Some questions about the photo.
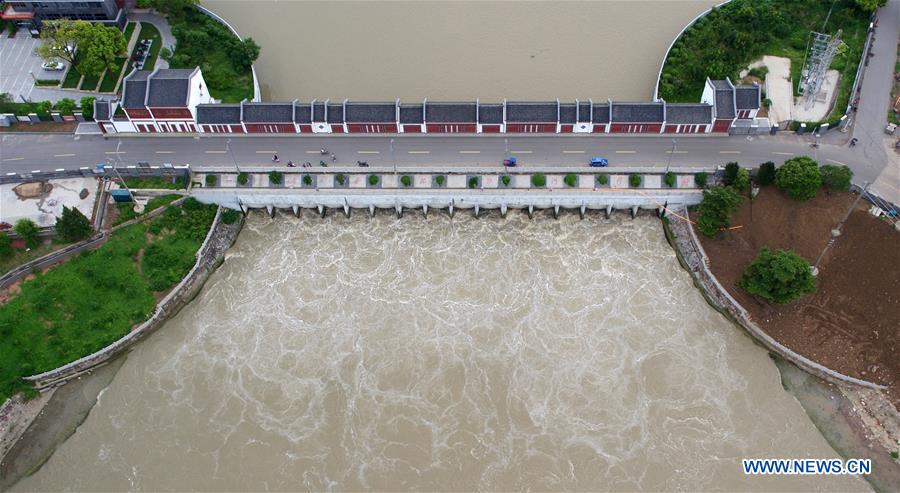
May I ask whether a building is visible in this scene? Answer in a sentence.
Yes, I can see a building in this picture.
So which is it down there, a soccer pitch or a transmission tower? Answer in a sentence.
The image shows a transmission tower.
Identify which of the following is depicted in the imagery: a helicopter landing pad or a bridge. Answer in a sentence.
I can see a bridge in this picture.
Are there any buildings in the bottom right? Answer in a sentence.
No, I can find no building in the bottom right.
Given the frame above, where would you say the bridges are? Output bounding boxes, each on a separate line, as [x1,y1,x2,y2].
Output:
[180,121,710,224]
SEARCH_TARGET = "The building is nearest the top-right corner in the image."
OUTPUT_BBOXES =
[738,84,764,120]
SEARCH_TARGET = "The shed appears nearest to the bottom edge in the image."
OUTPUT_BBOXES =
[106,189,132,207]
